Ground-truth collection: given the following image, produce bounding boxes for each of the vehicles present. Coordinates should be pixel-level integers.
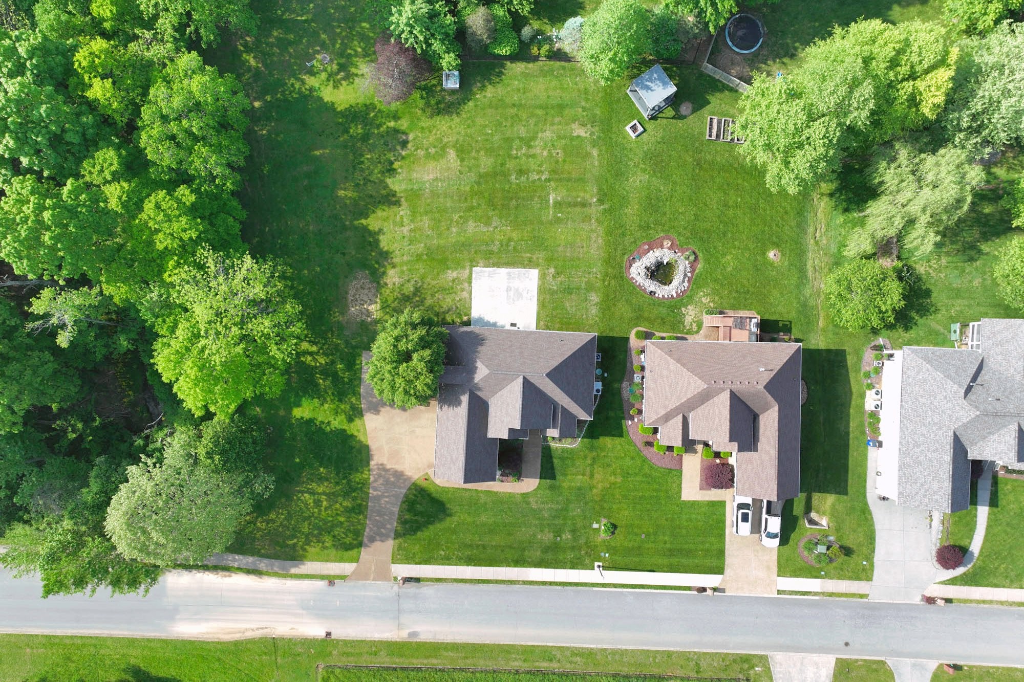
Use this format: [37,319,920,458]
[758,499,784,548]
[731,491,756,537]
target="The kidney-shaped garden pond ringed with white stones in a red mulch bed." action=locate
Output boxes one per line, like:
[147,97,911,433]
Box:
[625,235,700,300]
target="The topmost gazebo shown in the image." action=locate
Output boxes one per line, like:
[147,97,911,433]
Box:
[626,63,677,118]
